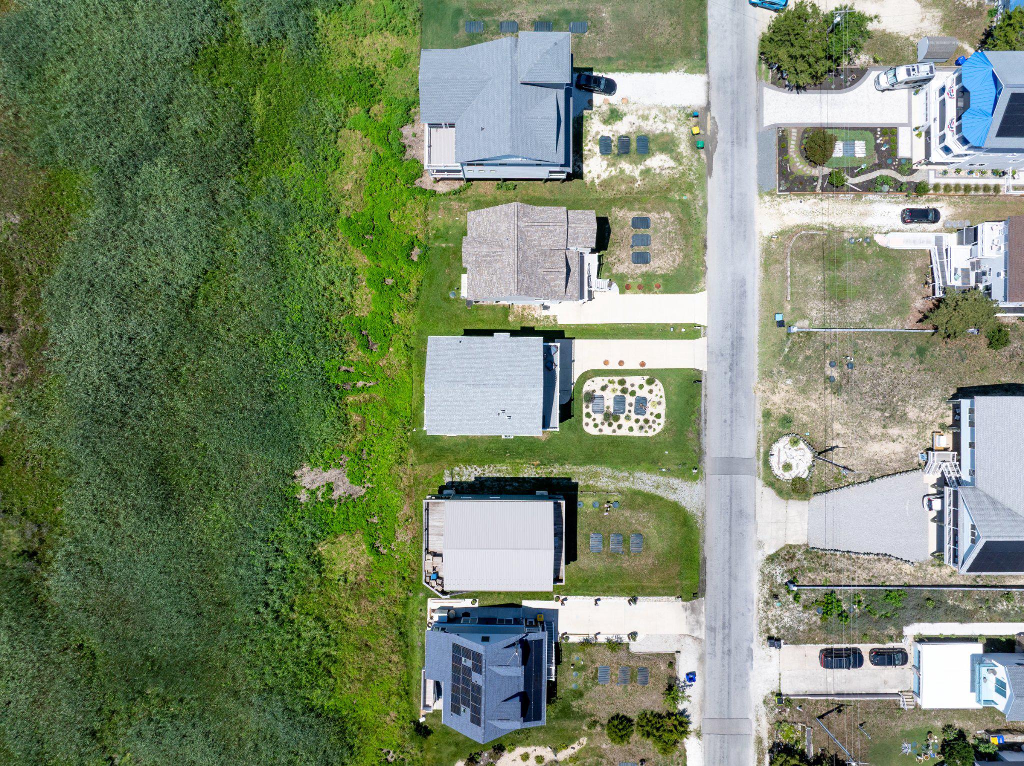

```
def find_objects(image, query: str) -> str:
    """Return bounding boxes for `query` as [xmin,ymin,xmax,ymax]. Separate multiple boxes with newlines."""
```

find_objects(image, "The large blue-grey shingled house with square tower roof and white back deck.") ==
[419,32,573,186]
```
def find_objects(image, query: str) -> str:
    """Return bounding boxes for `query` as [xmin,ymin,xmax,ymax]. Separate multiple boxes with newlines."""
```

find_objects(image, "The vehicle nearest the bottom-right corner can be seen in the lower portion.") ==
[868,647,907,668]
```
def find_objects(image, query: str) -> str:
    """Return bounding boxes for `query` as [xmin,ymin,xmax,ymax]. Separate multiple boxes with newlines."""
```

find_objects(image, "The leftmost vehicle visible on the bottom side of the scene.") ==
[819,647,863,669]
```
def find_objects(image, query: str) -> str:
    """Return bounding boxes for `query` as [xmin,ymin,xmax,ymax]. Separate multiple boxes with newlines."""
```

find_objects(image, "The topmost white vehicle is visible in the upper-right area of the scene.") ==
[869,60,940,92]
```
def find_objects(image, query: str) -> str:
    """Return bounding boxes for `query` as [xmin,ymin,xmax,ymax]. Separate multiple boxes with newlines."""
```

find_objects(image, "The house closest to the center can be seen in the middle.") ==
[415,333,559,435]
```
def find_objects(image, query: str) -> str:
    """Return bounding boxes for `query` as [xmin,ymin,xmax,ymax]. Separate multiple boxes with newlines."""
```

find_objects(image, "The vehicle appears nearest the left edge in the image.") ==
[574,74,617,98]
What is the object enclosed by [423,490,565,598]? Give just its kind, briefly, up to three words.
house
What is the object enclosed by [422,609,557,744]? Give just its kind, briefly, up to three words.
house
